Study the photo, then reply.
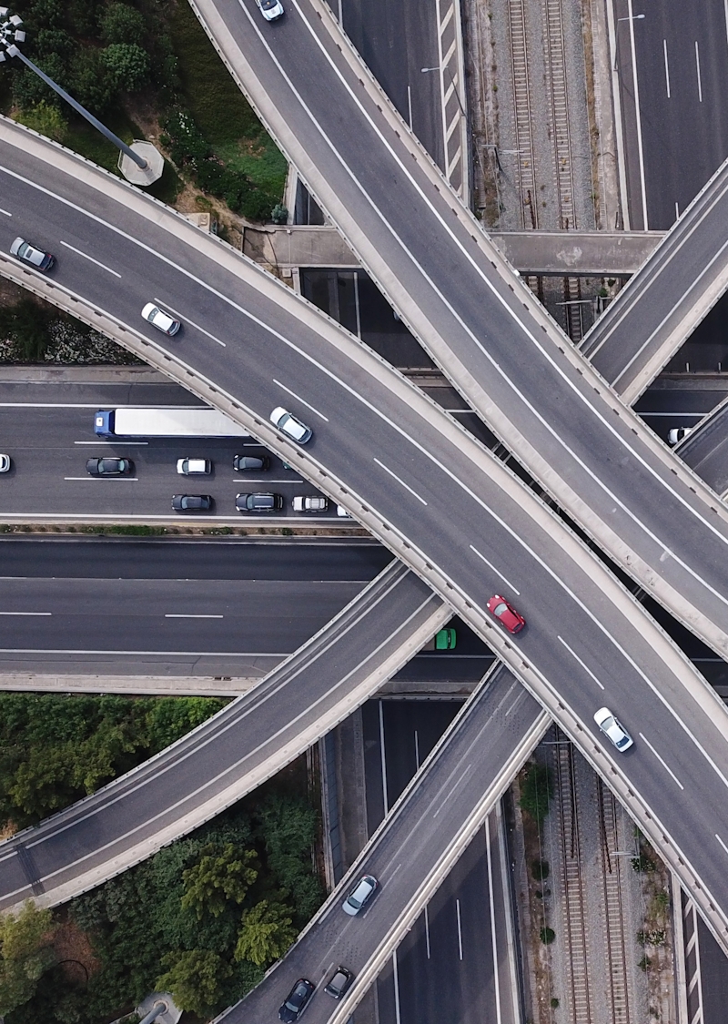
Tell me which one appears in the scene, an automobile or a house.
automobile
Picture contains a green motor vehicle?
Yes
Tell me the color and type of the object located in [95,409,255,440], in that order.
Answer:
white truck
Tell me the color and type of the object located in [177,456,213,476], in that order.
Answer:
white car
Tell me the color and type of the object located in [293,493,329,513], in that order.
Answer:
white car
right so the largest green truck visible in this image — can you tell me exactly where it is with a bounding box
[422,626,459,652]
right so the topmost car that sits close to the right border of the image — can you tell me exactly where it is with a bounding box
[668,425,695,445]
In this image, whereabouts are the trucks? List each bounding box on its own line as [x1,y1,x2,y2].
[95,409,255,440]
[422,626,459,652]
